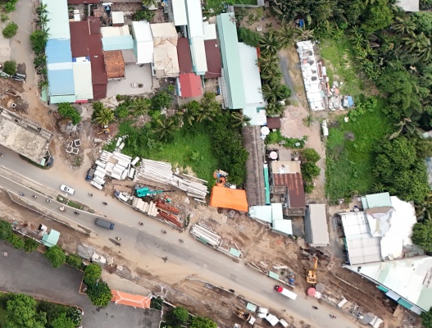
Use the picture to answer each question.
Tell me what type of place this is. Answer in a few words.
residential area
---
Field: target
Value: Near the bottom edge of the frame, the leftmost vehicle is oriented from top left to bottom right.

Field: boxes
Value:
[234,304,256,324]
